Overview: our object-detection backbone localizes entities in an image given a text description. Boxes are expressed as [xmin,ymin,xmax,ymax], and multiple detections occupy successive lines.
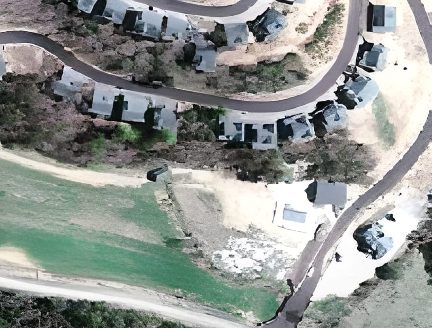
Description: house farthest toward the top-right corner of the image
[370,4,397,33]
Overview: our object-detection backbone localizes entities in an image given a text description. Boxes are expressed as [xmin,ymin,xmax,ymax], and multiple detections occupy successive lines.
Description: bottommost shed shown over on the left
[151,161,175,184]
